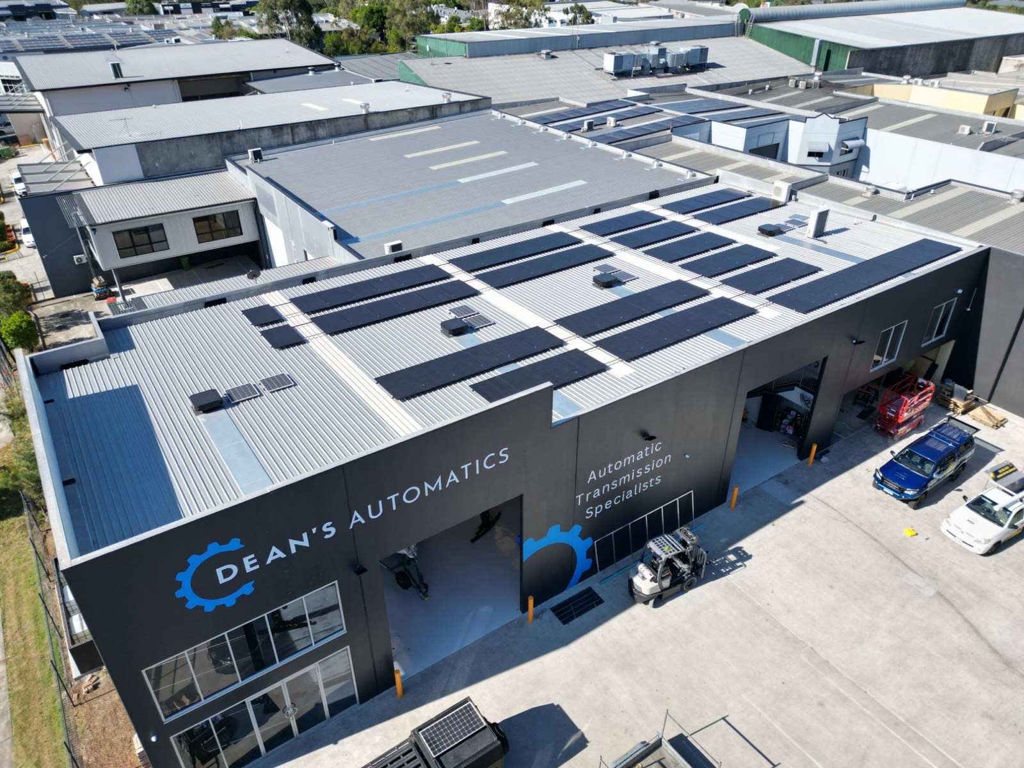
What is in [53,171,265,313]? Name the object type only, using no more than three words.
building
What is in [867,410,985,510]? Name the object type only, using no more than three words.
truck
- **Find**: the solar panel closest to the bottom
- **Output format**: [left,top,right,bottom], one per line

[547,583,604,624]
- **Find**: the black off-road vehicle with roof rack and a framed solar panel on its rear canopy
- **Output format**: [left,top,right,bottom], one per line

[362,698,513,768]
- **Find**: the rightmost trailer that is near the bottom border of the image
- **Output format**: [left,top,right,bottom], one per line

[603,712,718,768]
